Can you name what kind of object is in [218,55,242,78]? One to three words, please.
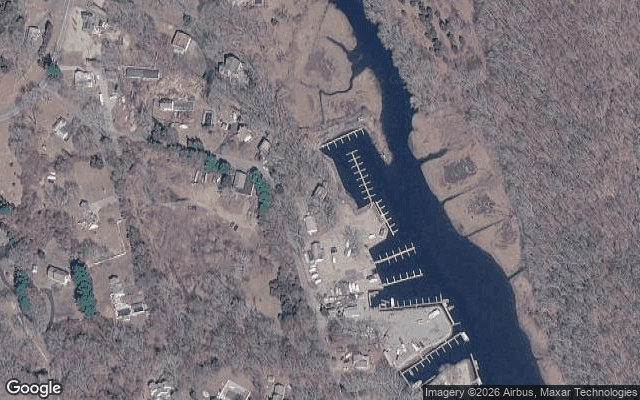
house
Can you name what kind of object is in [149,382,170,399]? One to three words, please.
house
